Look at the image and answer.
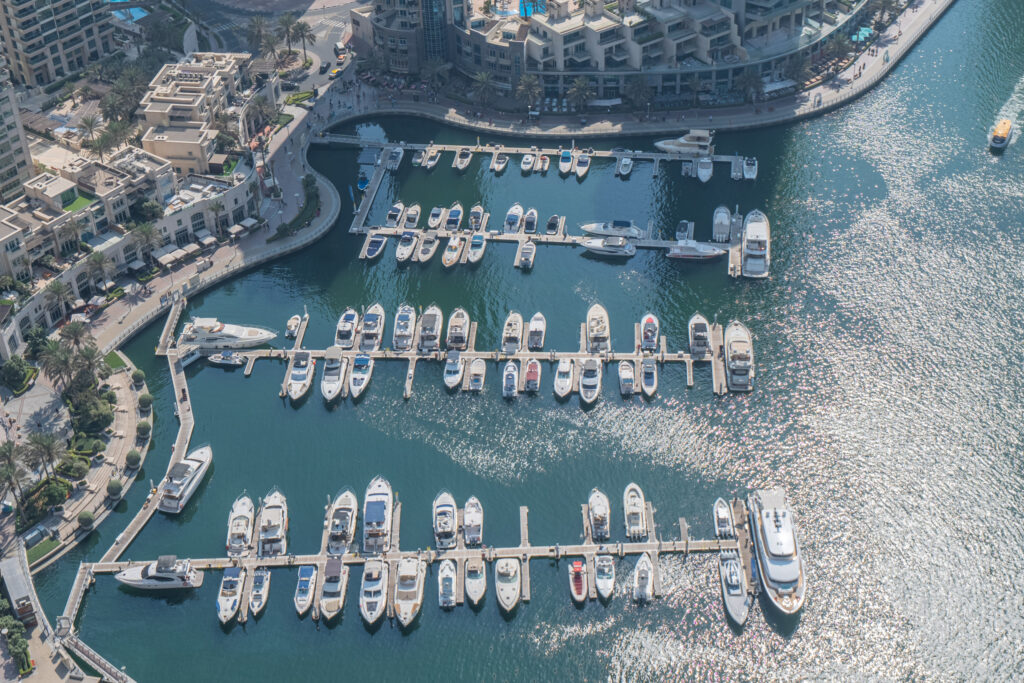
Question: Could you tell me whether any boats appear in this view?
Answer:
Yes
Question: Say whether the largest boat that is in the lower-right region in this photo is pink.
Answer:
No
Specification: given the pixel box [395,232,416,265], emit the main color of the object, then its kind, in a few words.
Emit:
white boat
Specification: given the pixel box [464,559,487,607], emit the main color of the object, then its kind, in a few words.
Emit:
white boat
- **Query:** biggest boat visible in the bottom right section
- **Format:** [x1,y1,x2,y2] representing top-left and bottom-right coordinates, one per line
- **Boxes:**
[748,487,808,615]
